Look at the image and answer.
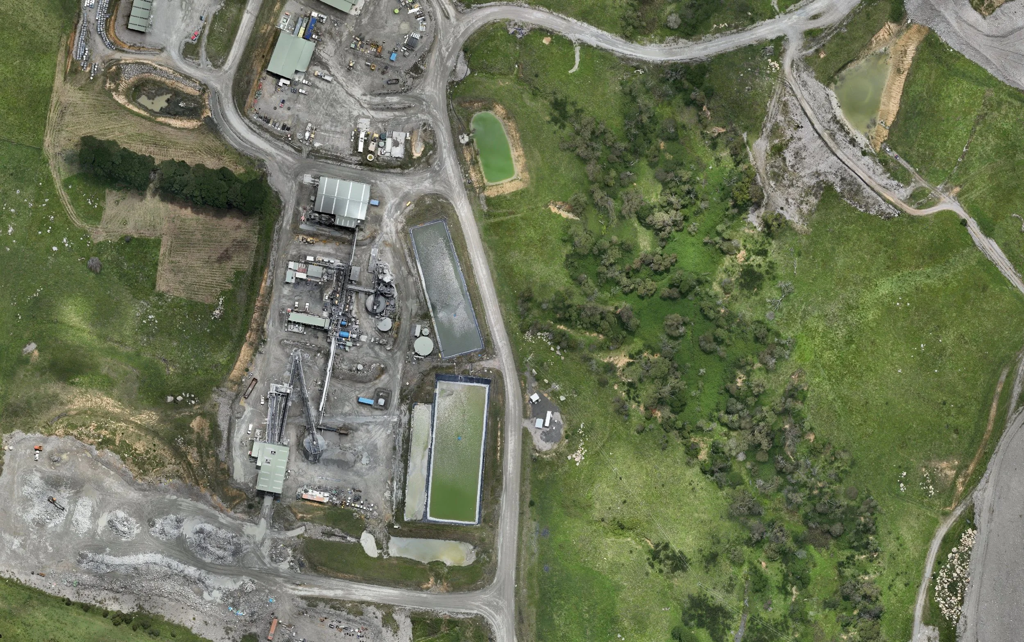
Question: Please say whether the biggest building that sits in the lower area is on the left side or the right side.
left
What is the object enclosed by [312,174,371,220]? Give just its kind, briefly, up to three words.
building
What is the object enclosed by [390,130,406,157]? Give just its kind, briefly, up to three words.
shed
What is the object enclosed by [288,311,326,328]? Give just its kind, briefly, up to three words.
building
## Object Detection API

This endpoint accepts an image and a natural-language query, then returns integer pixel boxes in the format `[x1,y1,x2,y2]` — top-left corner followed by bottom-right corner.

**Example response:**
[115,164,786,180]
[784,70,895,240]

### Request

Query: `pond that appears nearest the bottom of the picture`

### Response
[389,534,478,568]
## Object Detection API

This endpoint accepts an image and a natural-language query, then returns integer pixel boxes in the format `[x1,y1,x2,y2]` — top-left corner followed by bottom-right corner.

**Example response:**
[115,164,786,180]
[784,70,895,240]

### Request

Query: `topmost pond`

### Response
[410,219,484,360]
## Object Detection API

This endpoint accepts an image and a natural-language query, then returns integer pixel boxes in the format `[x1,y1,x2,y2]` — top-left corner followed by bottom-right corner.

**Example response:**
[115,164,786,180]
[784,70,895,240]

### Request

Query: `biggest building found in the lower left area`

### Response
[254,443,289,496]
